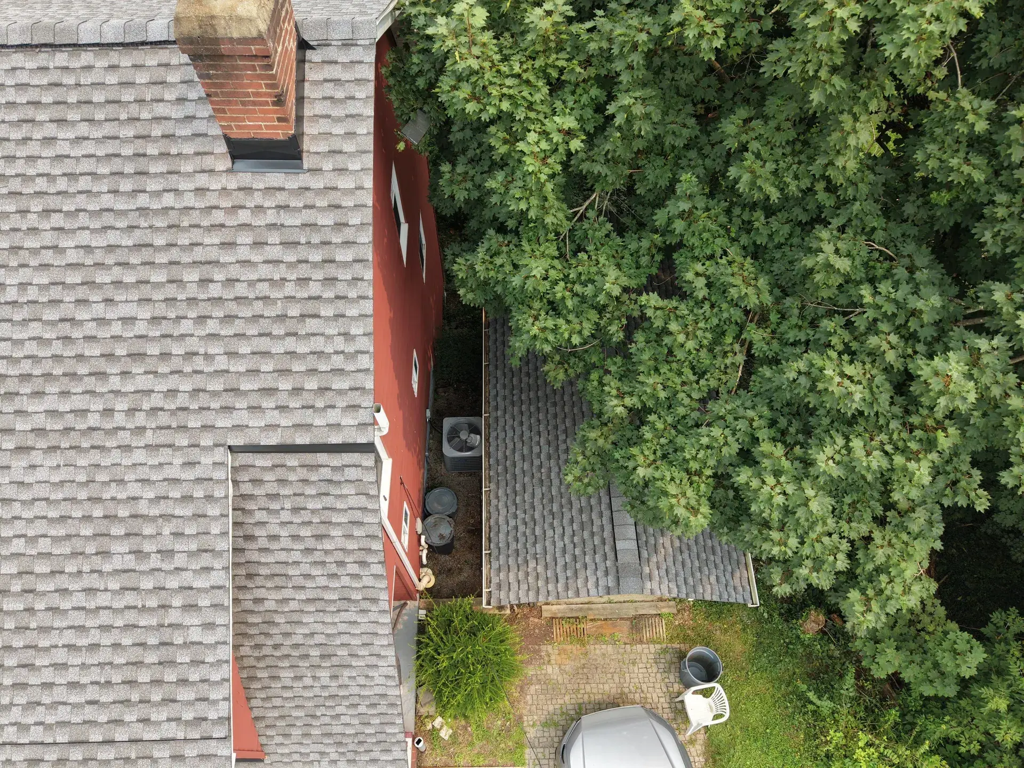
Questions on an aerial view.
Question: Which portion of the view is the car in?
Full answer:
Look in the bottom portion of the view to spot the car.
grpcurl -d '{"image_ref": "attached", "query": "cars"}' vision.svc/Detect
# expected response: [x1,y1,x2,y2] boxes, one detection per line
[554,705,685,768]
